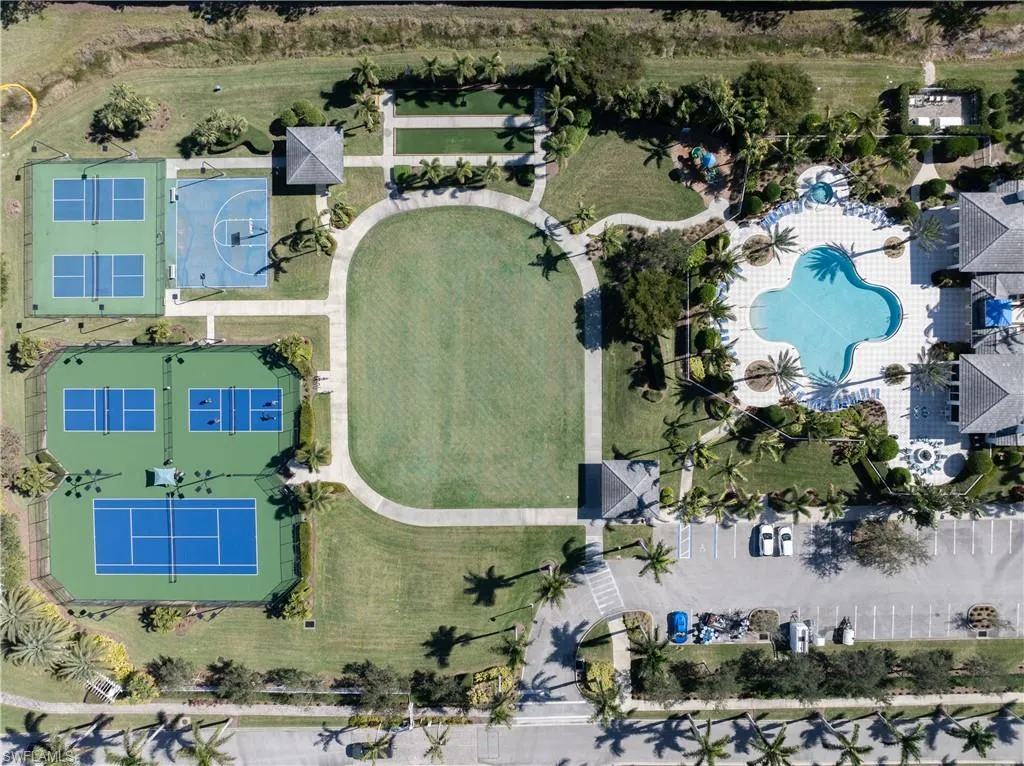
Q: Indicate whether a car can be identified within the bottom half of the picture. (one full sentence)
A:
Yes, looking within the bottom half of the picture, one can make out a car.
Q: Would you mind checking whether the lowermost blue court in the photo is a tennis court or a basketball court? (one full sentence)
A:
I'd identify the lowermost blue court as a tennis court.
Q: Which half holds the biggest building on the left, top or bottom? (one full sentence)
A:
The top half of the photo is where the biggest building on the left is.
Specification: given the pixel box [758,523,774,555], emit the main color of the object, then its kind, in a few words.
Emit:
white car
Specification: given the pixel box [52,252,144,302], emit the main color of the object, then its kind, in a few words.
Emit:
blue sports court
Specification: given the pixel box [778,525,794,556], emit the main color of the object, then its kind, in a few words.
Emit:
white car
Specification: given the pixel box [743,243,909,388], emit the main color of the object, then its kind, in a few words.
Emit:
blue swimming pool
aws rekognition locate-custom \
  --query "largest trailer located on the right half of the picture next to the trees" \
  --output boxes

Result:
[787,610,810,658]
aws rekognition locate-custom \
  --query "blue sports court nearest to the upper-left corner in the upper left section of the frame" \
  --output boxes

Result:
[52,175,144,226]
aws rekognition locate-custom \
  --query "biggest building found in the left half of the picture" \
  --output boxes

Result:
[286,126,344,186]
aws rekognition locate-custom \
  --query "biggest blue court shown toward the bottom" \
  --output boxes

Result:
[92,492,257,582]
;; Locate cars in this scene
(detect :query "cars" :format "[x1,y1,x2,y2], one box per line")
[351,741,385,759]
[758,523,774,555]
[673,611,689,643]
[778,525,794,556]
